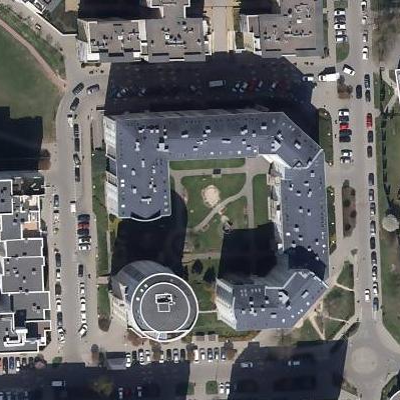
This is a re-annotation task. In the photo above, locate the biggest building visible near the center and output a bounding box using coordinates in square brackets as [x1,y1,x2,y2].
[107,108,327,284]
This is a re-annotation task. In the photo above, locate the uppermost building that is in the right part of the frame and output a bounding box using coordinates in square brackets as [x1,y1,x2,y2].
[238,0,323,58]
